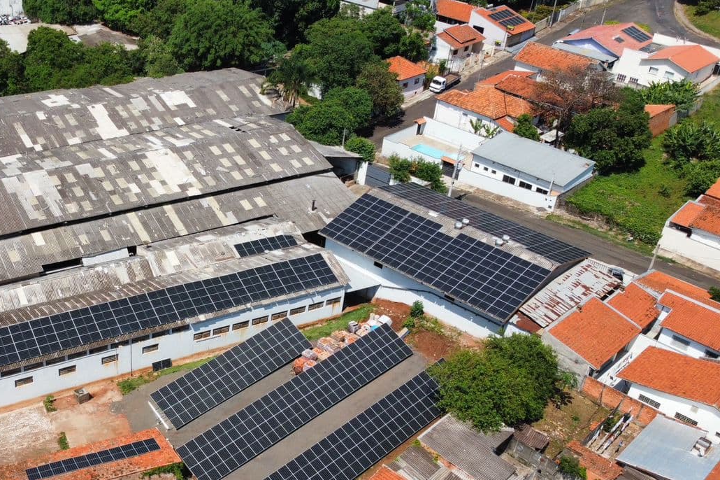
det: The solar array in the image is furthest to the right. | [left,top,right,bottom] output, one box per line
[622,26,651,42]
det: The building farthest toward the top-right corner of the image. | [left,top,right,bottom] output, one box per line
[645,46,719,89]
